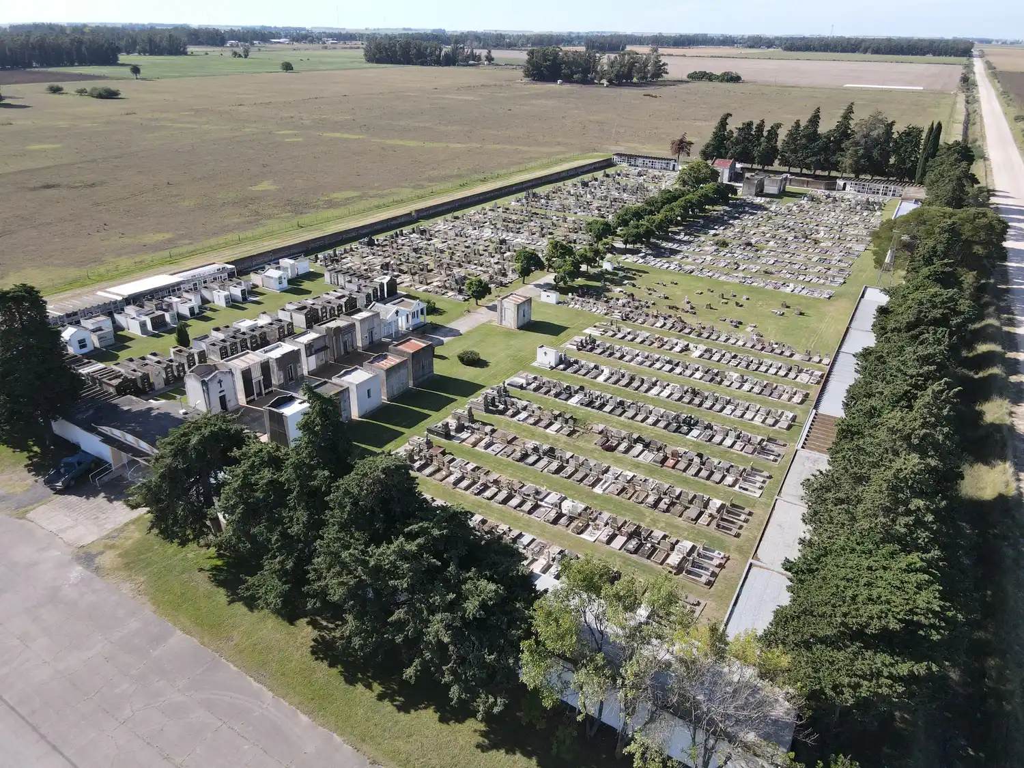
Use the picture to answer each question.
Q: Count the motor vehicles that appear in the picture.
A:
one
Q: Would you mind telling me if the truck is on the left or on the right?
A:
left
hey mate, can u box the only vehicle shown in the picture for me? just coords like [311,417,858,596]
[42,452,100,492]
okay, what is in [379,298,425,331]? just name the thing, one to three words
building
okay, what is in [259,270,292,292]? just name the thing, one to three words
building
